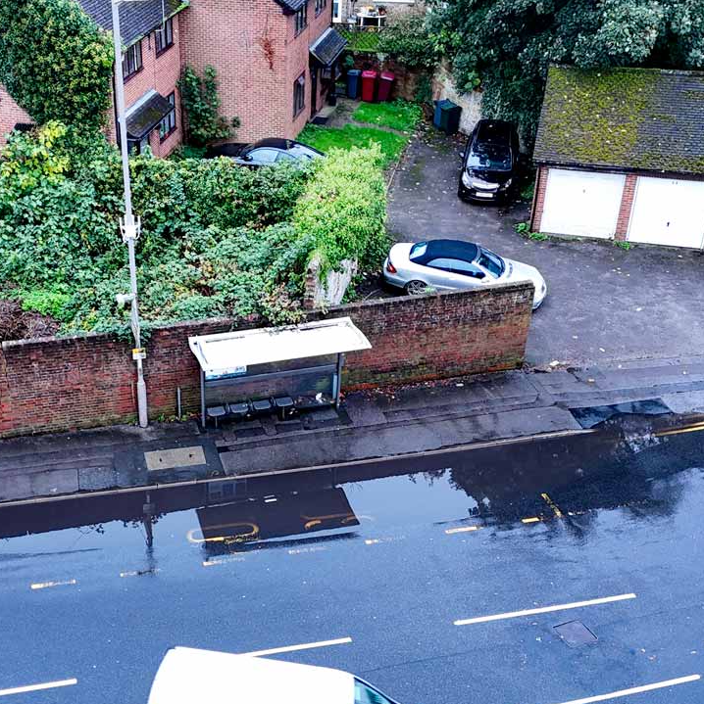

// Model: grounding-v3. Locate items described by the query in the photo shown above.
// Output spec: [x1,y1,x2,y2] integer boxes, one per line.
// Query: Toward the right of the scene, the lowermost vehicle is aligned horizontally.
[382,235,549,301]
